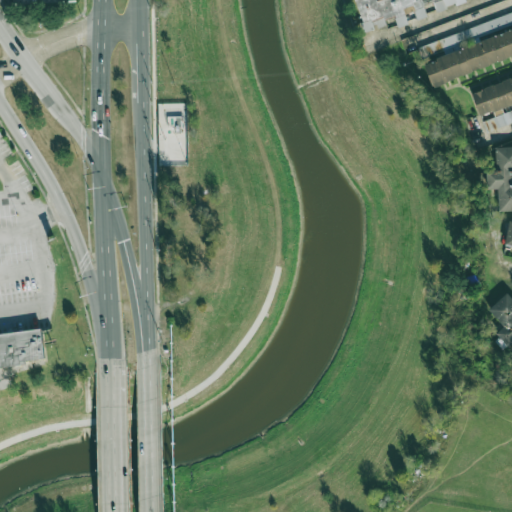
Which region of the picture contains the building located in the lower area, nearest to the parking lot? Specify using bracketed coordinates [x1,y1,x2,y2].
[0,329,45,370]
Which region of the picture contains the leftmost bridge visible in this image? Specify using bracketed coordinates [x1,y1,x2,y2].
[96,364,130,512]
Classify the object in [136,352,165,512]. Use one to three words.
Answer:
bridge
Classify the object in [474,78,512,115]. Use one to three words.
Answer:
building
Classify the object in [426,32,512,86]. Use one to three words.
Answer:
building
